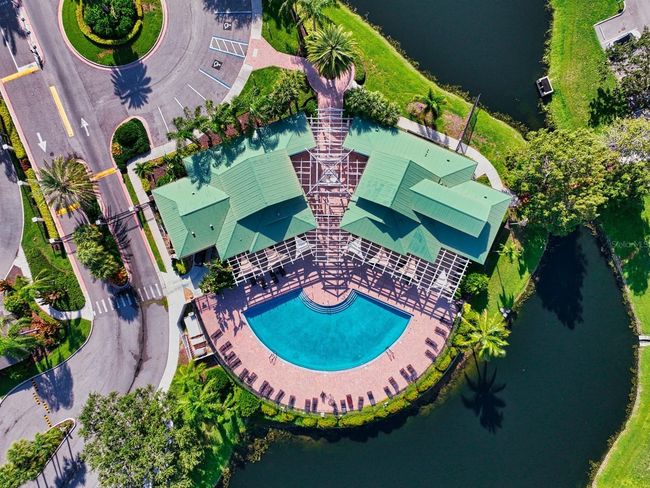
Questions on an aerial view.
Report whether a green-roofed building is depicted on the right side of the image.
Yes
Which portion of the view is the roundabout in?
top left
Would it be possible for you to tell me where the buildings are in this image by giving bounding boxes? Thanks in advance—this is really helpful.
[152,112,318,260]
[340,113,514,264]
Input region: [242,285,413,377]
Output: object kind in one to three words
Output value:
swimming pool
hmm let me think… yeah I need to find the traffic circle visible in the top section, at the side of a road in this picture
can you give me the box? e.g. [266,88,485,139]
[57,0,166,71]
